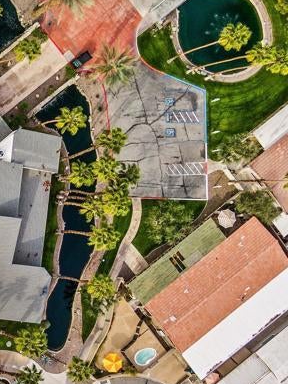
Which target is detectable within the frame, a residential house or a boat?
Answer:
residential house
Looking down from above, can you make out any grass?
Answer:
Yes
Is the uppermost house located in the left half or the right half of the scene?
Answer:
right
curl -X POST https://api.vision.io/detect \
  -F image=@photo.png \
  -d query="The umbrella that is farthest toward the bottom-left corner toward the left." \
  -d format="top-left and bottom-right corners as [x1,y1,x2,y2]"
[100,352,119,371]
